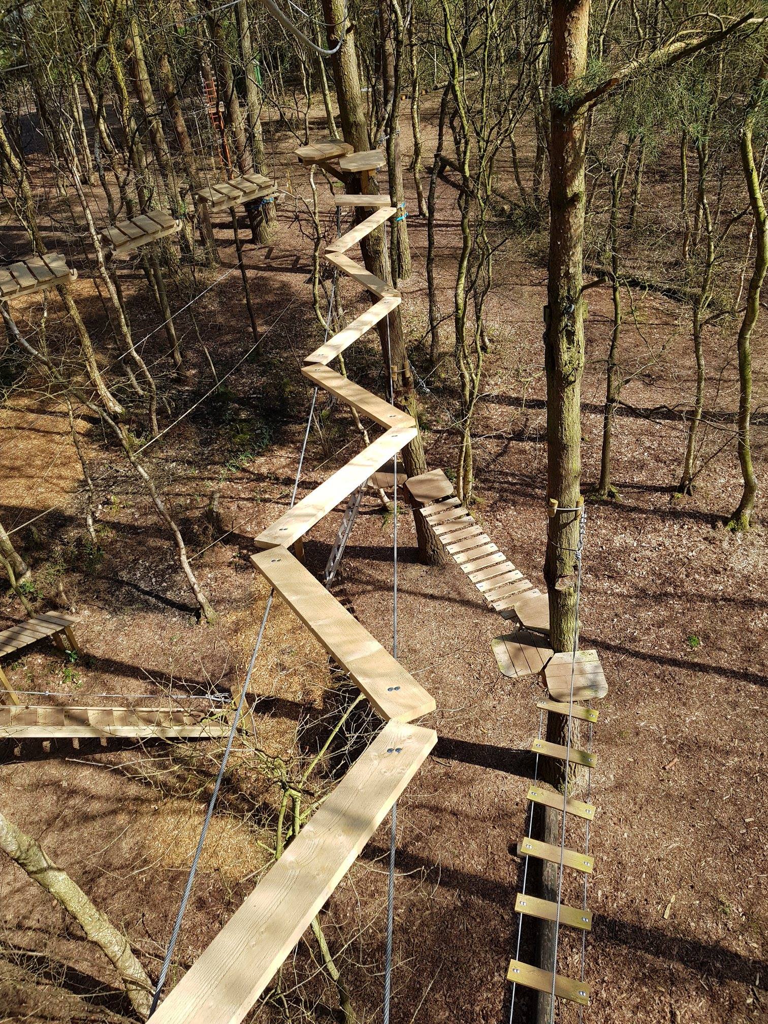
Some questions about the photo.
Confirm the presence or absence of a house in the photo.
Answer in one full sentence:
No, I can't see a single house in this photo.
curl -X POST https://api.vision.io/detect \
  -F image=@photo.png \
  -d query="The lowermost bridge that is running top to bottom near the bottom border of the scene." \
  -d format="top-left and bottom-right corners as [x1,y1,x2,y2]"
[508,682,598,1024]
